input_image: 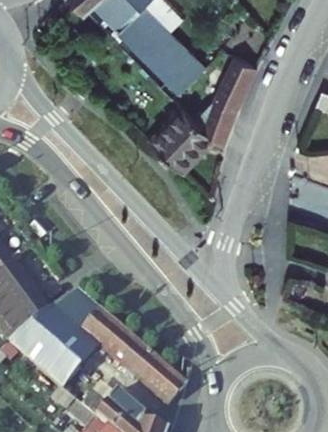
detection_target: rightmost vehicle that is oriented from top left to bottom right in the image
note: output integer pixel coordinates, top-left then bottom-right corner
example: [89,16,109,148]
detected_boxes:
[69,178,88,199]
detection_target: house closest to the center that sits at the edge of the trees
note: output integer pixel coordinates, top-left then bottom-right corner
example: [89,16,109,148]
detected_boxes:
[149,118,210,178]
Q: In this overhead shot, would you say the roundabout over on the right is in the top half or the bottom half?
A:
bottom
